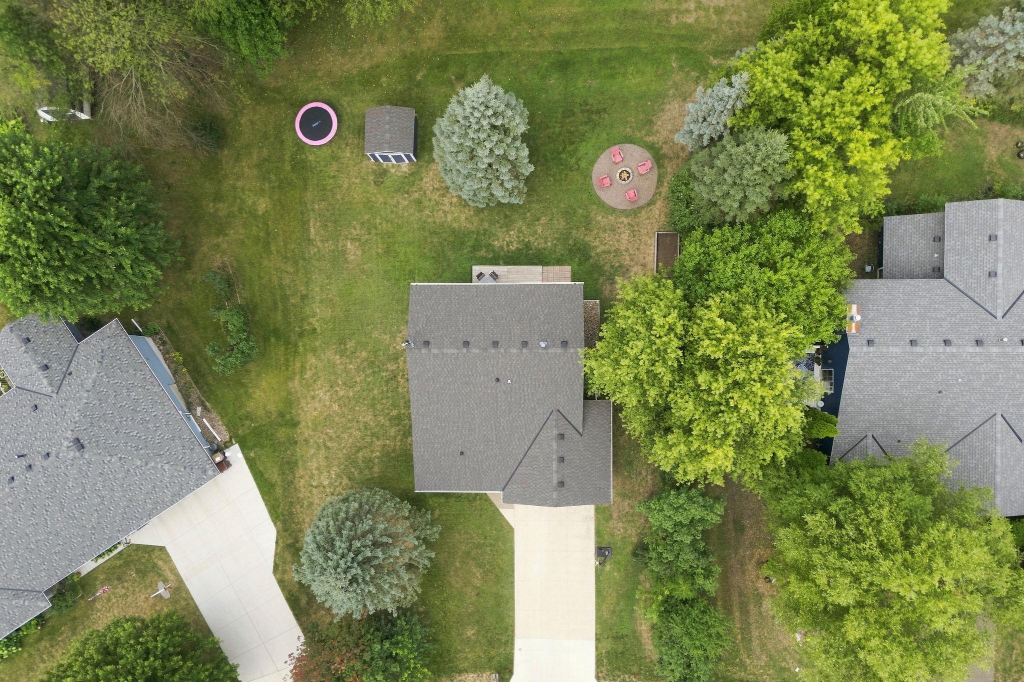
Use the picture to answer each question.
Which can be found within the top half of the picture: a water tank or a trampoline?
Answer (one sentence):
The one visible within the top half of the picture is a trampoline.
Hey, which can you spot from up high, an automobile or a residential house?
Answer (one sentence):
This aerial view contains a residential house.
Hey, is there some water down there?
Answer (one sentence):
No, water can't be seen anywhere here.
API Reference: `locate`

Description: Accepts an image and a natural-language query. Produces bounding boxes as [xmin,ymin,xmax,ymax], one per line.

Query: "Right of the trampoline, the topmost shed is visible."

[365,105,416,162]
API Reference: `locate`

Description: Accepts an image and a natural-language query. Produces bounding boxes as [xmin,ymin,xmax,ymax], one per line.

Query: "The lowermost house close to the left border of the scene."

[0,303,226,640]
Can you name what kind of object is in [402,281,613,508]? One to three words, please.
house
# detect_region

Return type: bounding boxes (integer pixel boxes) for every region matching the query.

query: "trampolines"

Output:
[296,103,337,145]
